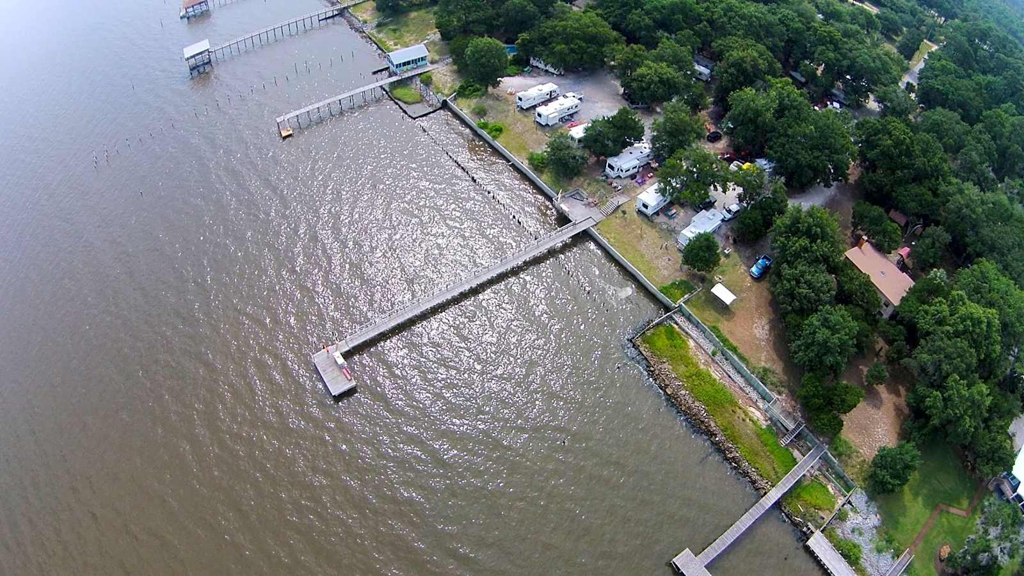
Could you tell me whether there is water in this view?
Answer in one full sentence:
Yes, some water is visible.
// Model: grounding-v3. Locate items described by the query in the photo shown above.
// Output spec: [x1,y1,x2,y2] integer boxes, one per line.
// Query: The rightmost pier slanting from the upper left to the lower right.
[798,531,863,576]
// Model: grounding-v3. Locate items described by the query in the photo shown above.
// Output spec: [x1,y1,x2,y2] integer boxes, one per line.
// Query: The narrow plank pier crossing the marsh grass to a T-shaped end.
[668,443,827,576]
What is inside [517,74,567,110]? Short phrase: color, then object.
white vehicle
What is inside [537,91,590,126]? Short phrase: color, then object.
white vehicle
